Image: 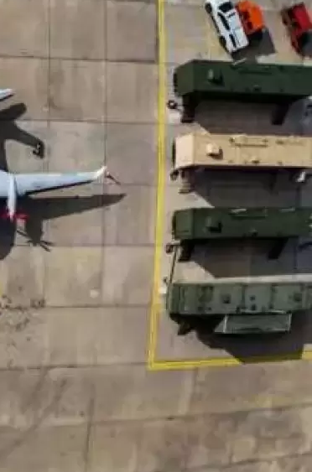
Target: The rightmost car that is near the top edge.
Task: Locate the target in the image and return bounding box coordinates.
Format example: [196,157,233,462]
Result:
[281,2,312,61]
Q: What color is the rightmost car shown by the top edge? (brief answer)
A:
red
